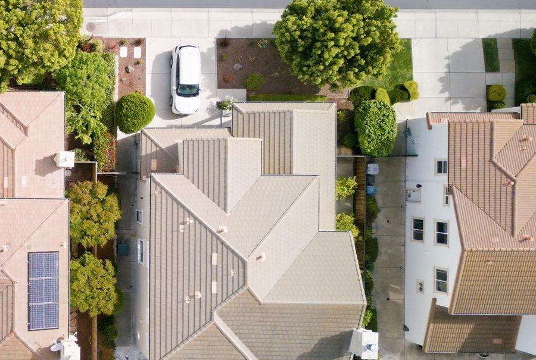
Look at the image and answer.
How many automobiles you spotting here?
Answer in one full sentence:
There is 1 automobile in the image.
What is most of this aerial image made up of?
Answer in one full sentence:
The bulk of the photo consists of buildings.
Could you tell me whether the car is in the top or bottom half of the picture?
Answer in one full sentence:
The car is in the top half of the image.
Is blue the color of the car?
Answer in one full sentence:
No, the car is actually white.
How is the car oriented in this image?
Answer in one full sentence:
The car is laid out vertically.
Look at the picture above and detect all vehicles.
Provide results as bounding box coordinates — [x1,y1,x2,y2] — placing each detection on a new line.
[173,43,208,112]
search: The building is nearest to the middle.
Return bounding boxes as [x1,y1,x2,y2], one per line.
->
[136,100,375,360]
